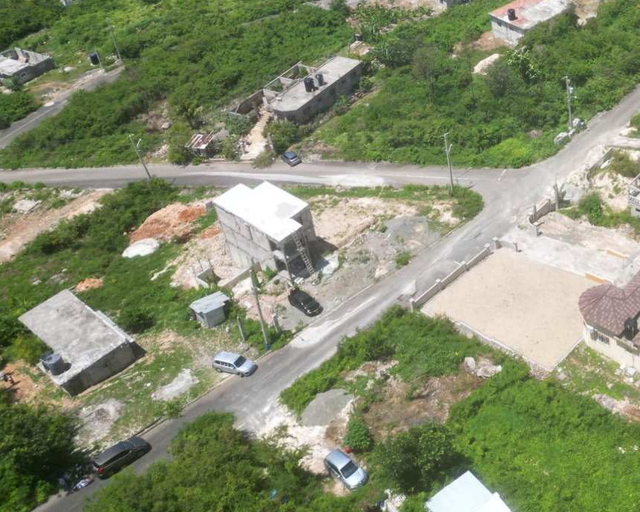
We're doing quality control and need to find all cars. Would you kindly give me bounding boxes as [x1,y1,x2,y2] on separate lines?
[85,436,154,482]
[320,447,368,491]
[280,147,301,165]
[285,286,321,314]
[209,352,256,380]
